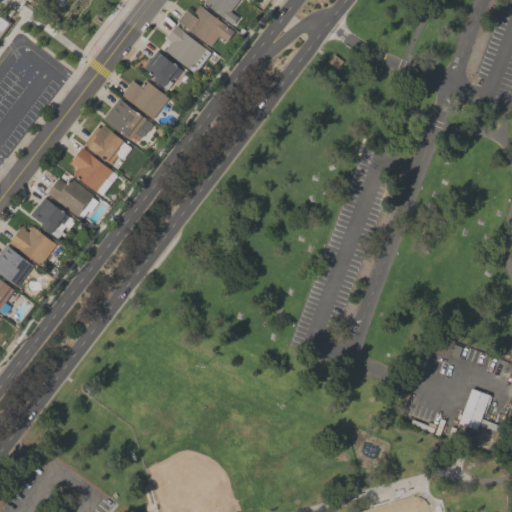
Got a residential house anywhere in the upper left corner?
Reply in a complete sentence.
Yes, the scene does show a residential house in the upper left corner.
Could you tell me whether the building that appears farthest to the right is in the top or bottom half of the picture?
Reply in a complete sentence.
The bottom half of the photo is where the building that appears farthest to the right is.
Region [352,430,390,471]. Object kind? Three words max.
playground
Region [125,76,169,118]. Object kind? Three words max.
house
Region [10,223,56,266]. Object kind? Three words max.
house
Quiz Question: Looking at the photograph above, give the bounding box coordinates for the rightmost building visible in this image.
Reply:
[460,389,498,432]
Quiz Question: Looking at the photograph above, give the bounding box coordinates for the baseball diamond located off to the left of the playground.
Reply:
[148,450,241,512]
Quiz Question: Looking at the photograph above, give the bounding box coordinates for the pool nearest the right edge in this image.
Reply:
[159,104,176,125]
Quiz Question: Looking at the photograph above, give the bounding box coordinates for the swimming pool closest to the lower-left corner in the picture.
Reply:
[16,301,32,321]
